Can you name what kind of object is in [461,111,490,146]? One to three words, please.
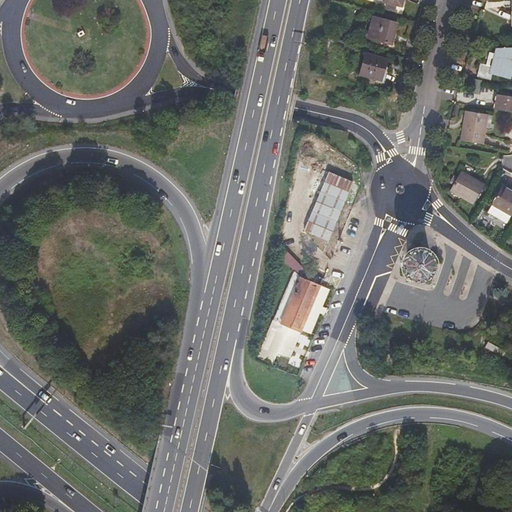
house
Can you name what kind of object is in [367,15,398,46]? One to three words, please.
house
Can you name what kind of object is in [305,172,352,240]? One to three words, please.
building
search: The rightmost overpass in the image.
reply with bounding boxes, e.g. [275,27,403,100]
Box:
[232,76,300,131]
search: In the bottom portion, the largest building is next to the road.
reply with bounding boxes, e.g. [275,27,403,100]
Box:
[258,271,330,367]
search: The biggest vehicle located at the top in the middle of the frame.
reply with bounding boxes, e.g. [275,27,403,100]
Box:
[257,28,270,61]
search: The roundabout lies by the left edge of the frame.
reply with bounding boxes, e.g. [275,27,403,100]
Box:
[2,0,170,118]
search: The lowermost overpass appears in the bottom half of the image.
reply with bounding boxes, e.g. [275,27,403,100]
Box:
[141,434,220,512]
